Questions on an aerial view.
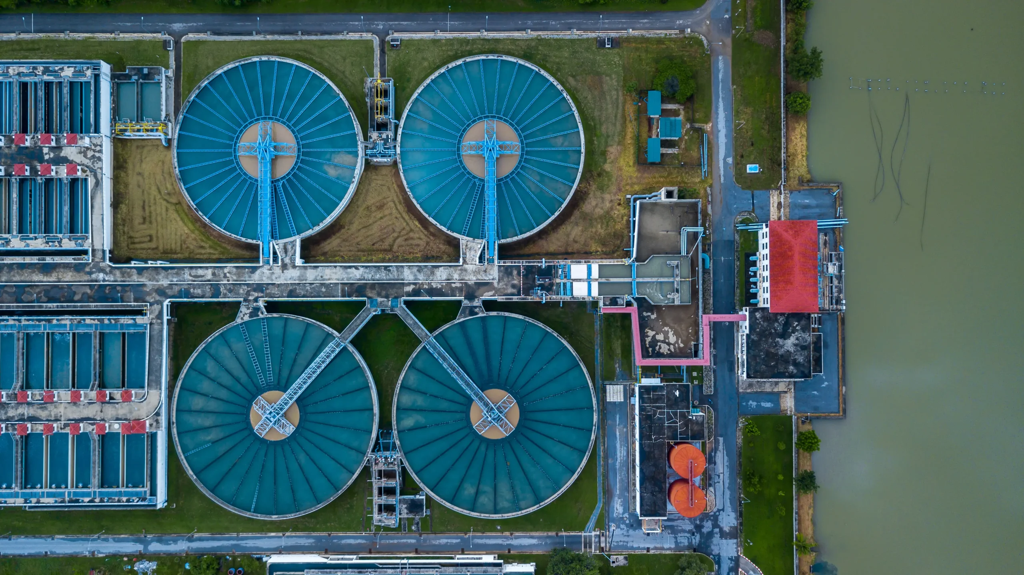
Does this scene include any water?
Yes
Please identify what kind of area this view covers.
industrial area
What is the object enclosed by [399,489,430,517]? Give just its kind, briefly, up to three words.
building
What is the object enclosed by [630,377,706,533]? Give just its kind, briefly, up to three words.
building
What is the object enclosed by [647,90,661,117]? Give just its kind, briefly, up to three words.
shed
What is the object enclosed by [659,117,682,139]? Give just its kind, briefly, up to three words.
shed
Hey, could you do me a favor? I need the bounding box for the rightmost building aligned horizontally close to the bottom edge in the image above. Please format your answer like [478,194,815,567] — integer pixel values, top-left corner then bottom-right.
[503,559,535,571]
